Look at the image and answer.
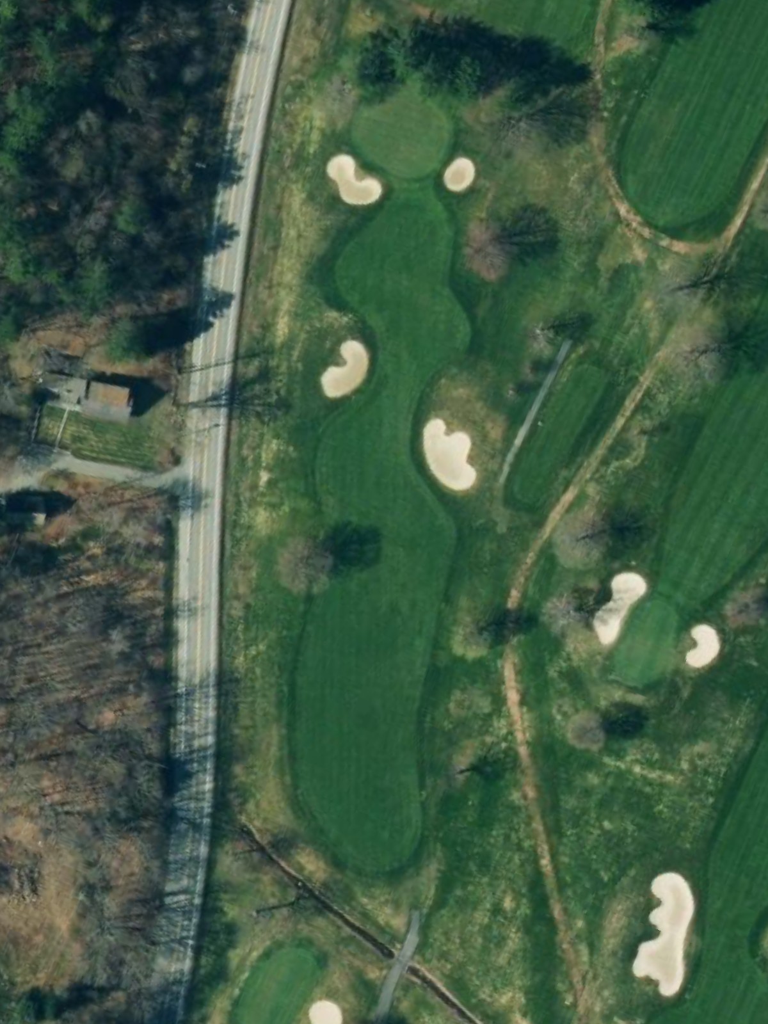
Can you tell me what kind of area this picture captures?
golf course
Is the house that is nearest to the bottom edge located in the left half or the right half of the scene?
left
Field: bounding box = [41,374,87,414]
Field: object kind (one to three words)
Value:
house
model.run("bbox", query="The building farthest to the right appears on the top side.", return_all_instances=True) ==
[78,378,131,425]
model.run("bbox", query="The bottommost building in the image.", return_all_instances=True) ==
[2,494,46,528]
